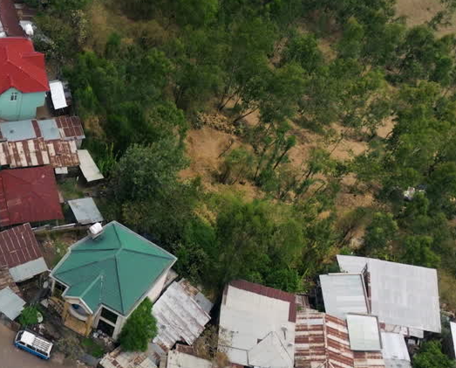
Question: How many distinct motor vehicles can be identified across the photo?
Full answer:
The picture shows 1 motor vehicle.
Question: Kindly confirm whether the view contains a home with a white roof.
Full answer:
Yes, I can see a home with a white roof in this picture.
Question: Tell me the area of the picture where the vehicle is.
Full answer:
The vehicle is located in the bottom left region of the scene.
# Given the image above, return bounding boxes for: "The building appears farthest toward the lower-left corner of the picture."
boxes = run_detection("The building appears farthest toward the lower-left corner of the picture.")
[0,287,26,330]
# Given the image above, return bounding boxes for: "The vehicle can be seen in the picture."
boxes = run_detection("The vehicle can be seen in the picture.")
[12,331,55,361]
